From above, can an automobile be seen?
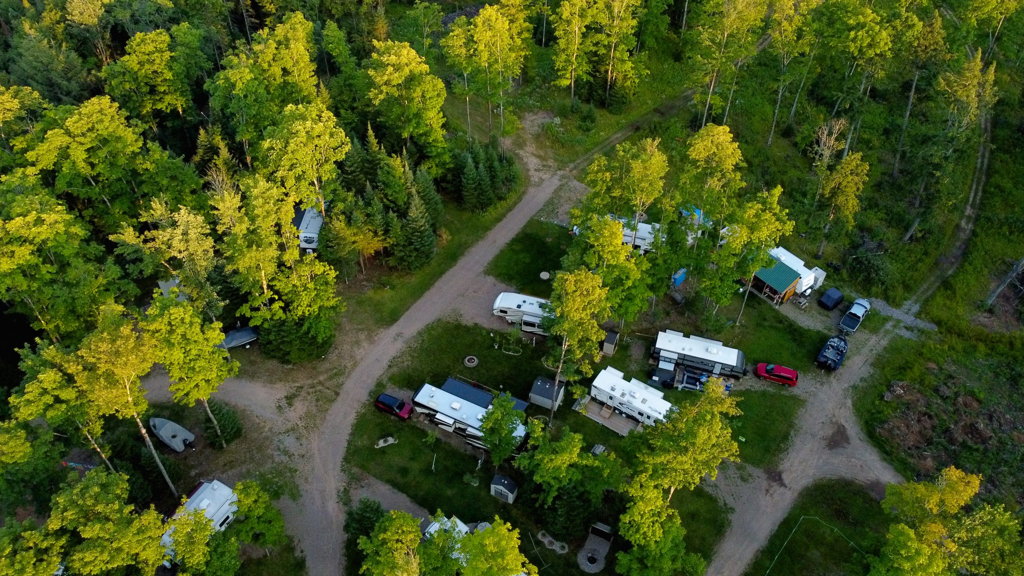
Yes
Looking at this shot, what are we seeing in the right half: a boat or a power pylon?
boat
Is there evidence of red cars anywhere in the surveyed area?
Yes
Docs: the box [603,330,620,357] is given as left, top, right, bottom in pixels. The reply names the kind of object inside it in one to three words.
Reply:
shed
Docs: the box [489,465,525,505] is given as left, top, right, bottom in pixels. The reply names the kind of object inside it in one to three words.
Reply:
shed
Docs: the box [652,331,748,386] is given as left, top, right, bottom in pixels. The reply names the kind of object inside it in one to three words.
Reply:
trailer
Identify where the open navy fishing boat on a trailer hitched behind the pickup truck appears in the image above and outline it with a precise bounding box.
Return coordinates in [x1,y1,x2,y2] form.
[813,334,848,372]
